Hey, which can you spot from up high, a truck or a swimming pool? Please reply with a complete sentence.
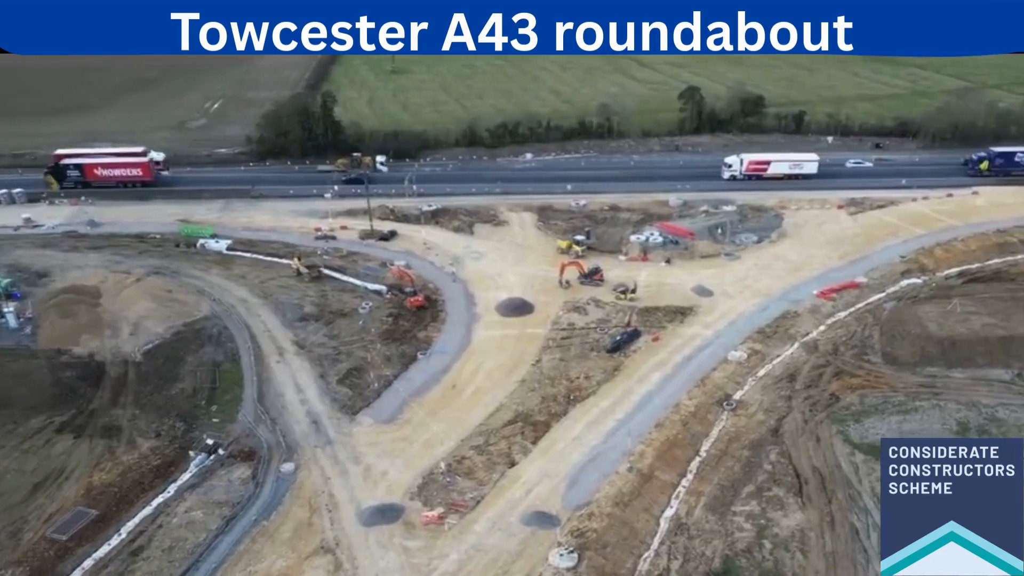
It is a truck that can be seen here.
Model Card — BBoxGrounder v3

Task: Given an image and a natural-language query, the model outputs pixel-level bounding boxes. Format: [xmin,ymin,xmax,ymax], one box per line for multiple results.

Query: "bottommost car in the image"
[608,326,642,352]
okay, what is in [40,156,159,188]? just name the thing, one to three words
truck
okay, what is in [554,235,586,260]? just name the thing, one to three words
truck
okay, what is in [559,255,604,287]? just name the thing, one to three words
work vehicle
